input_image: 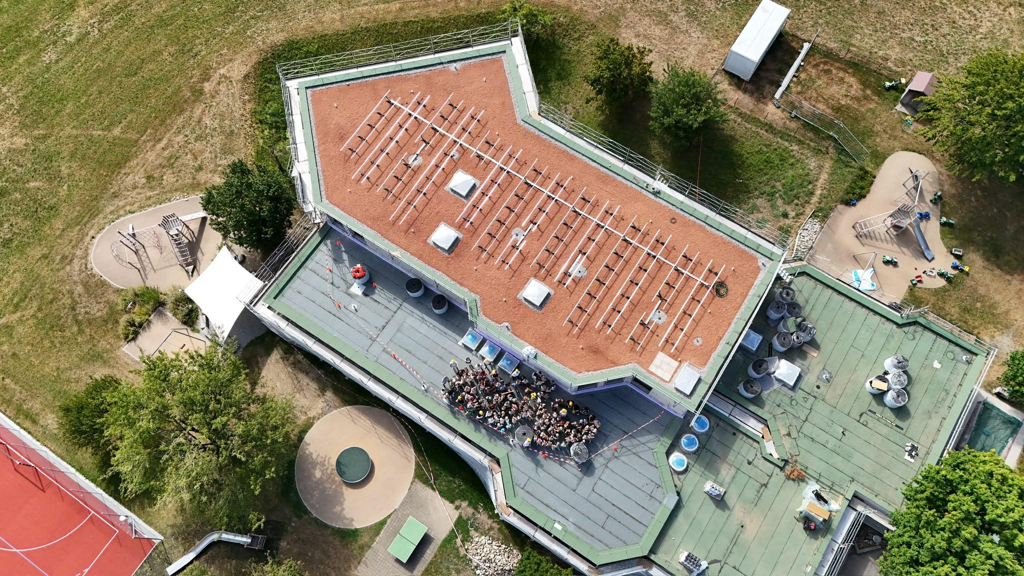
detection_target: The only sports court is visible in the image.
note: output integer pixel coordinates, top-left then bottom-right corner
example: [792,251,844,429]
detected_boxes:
[0,433,155,576]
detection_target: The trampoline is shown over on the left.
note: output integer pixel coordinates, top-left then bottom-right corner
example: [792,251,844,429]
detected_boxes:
[335,446,372,484]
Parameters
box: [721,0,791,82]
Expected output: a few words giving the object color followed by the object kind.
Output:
white shipping container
